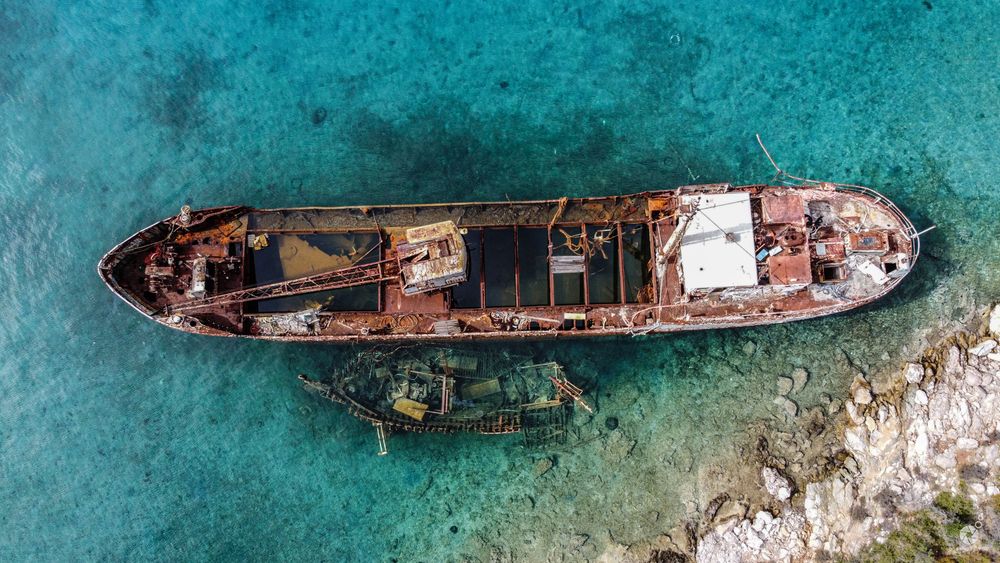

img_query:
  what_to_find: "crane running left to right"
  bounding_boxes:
[162,225,475,316]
